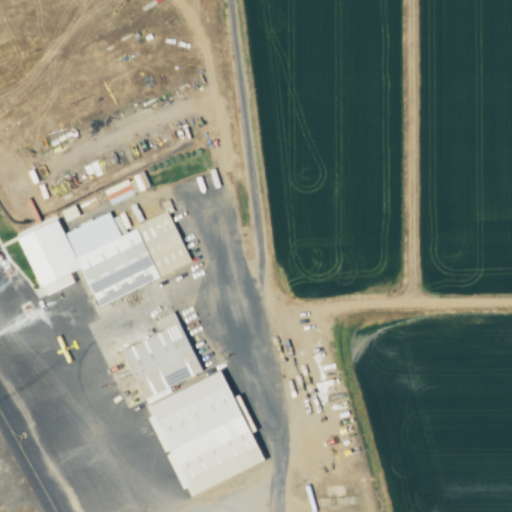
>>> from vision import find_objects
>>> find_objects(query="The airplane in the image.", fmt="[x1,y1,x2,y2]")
[56,336,77,364]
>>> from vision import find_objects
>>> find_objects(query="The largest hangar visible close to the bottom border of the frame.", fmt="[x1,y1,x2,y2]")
[145,368,267,500]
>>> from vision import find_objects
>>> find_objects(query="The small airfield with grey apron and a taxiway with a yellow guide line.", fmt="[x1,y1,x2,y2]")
[0,249,190,512]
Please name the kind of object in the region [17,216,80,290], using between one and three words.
hangar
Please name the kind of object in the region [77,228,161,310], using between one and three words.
hangar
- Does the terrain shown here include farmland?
Yes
